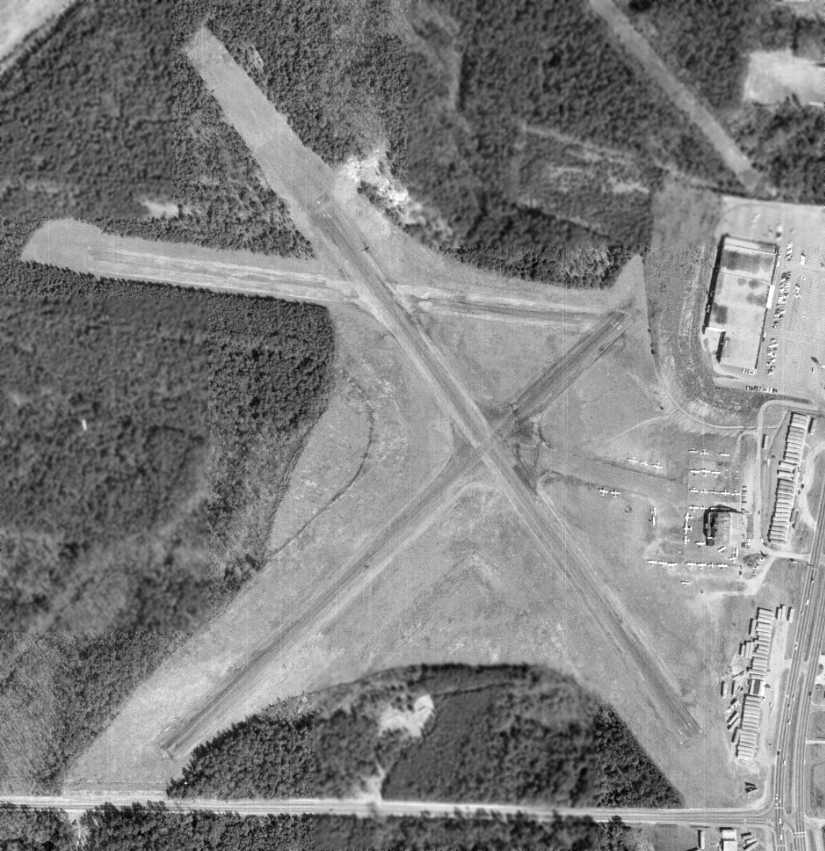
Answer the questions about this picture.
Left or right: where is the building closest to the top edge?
right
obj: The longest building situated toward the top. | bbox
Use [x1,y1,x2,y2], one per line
[706,238,779,368]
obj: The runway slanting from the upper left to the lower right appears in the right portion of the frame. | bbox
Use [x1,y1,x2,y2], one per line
[317,198,701,737]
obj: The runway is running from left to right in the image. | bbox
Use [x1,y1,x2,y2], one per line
[81,245,612,330]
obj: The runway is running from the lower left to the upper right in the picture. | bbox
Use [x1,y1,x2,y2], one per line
[161,310,629,759]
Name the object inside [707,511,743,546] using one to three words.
hangar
